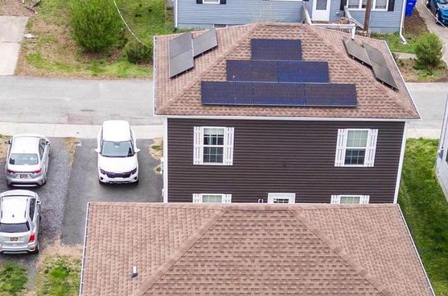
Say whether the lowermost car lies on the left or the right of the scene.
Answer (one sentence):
The lowermost car sits on the left side.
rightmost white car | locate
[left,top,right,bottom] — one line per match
[97,113,144,177]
